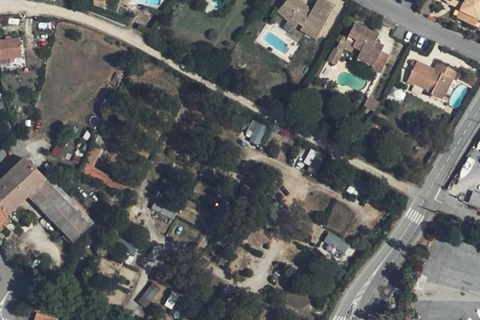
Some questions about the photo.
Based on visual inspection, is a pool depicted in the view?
Yes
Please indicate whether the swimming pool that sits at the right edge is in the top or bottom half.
top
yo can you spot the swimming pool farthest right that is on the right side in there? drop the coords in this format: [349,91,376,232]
[447,84,468,110]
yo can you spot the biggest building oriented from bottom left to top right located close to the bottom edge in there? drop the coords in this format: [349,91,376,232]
[134,280,160,308]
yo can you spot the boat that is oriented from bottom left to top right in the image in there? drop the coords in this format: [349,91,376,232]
[460,157,476,178]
